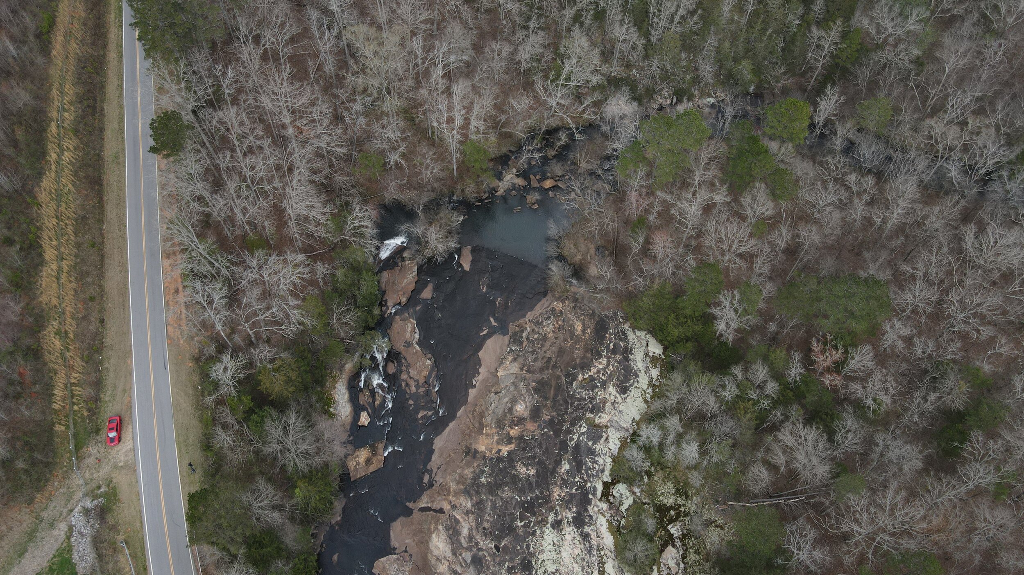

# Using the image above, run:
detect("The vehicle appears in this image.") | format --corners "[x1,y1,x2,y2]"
[105,416,123,447]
